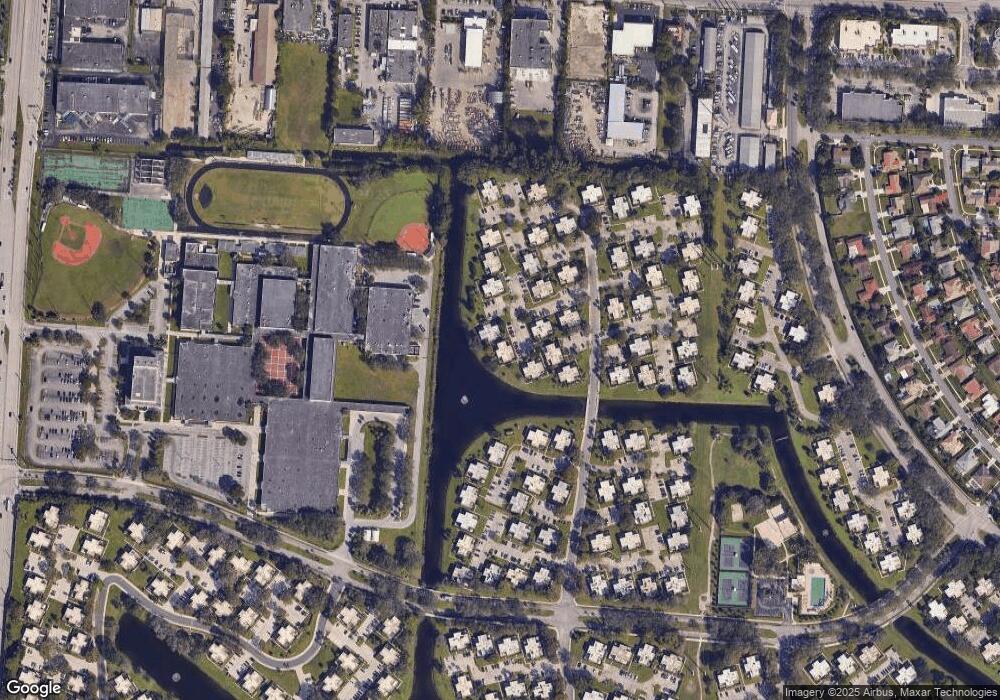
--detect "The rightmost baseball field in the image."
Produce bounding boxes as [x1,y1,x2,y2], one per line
[365,190,430,255]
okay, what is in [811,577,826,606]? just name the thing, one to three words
swimming pool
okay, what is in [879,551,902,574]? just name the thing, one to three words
house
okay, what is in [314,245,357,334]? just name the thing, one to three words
building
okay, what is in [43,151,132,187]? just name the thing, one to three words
tennis court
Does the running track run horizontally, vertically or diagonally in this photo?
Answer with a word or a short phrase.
horizontally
